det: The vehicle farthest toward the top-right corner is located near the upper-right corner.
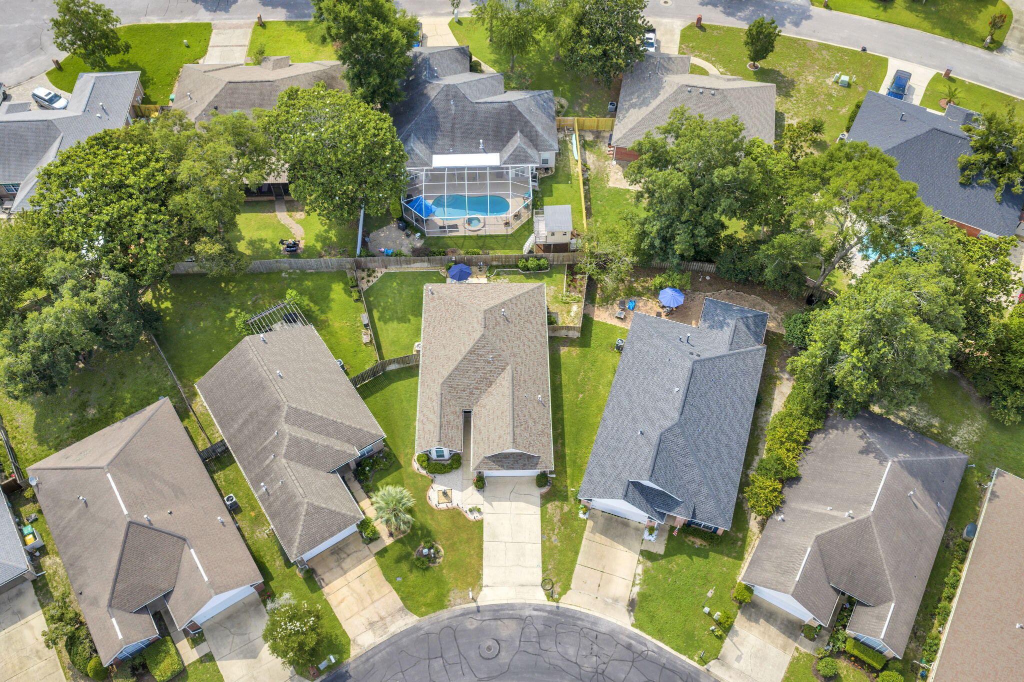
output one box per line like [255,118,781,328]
[892,70,915,104]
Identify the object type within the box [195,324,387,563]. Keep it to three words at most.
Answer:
house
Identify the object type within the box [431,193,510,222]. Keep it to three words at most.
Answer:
swimming pool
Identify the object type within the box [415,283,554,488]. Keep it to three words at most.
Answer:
house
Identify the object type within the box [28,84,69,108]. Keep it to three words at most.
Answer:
car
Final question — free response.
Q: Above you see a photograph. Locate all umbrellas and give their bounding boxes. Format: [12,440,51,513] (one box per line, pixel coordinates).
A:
[657,288,684,310]
[449,265,472,283]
